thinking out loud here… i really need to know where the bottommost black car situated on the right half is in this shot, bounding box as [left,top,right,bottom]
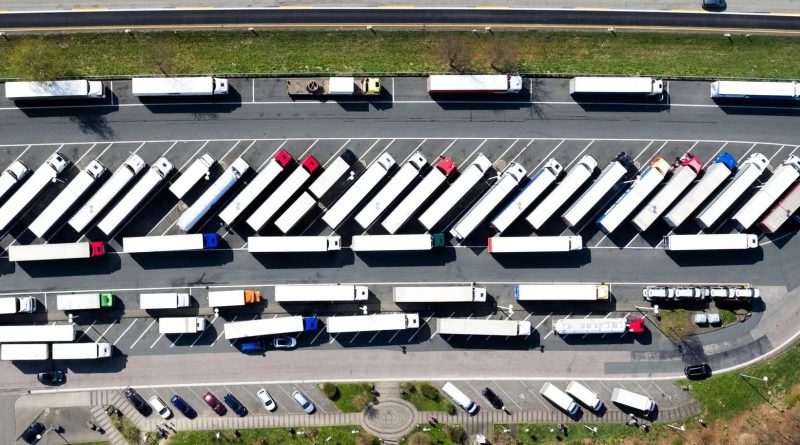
[482,387,505,410]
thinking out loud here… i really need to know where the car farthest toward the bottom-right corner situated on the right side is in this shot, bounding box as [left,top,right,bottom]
[684,365,712,377]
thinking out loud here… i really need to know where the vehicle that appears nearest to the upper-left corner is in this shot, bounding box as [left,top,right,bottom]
[5,80,104,101]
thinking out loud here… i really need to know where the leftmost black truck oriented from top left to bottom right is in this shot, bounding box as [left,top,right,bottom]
[124,387,153,418]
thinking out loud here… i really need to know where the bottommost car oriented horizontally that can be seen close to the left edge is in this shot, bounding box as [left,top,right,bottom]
[39,372,66,384]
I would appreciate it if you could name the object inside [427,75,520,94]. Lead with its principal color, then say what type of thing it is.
white vehicle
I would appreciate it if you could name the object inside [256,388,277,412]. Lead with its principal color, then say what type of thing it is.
white car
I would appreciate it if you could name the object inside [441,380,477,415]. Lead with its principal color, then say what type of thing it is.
white van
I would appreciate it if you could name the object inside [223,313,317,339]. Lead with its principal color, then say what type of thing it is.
white truck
